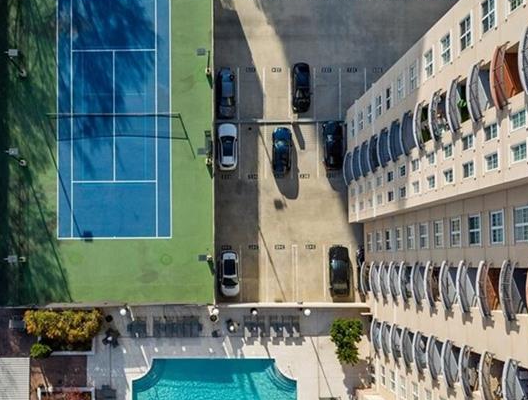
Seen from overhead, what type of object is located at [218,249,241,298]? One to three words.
car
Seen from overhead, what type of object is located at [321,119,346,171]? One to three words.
car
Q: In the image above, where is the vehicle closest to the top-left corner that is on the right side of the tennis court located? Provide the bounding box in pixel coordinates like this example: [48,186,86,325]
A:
[216,69,237,118]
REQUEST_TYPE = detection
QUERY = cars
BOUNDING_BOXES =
[216,69,237,118]
[321,119,346,171]
[216,123,238,172]
[328,245,353,299]
[218,249,241,298]
[290,61,313,114]
[270,126,293,175]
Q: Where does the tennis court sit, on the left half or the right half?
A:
left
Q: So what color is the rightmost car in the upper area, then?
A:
black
